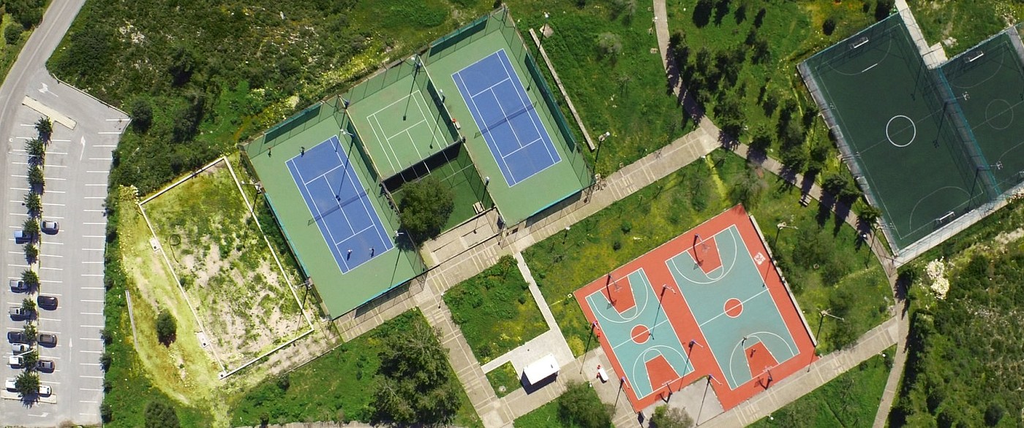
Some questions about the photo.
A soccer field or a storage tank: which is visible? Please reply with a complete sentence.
This aerial view contains a soccer field.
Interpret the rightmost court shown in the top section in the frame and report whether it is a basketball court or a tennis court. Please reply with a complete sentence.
From above, the rightmost court shown in the top section can be identified as a tennis court.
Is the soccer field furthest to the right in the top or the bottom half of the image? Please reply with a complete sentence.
You can find the soccer field furthest to the right in the top half.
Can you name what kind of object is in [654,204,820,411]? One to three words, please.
basketball court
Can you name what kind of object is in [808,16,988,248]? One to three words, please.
soccer field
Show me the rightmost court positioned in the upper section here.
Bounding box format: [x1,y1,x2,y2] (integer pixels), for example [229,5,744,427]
[418,9,594,225]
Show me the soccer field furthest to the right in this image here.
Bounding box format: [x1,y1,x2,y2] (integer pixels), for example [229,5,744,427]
[930,30,1024,195]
